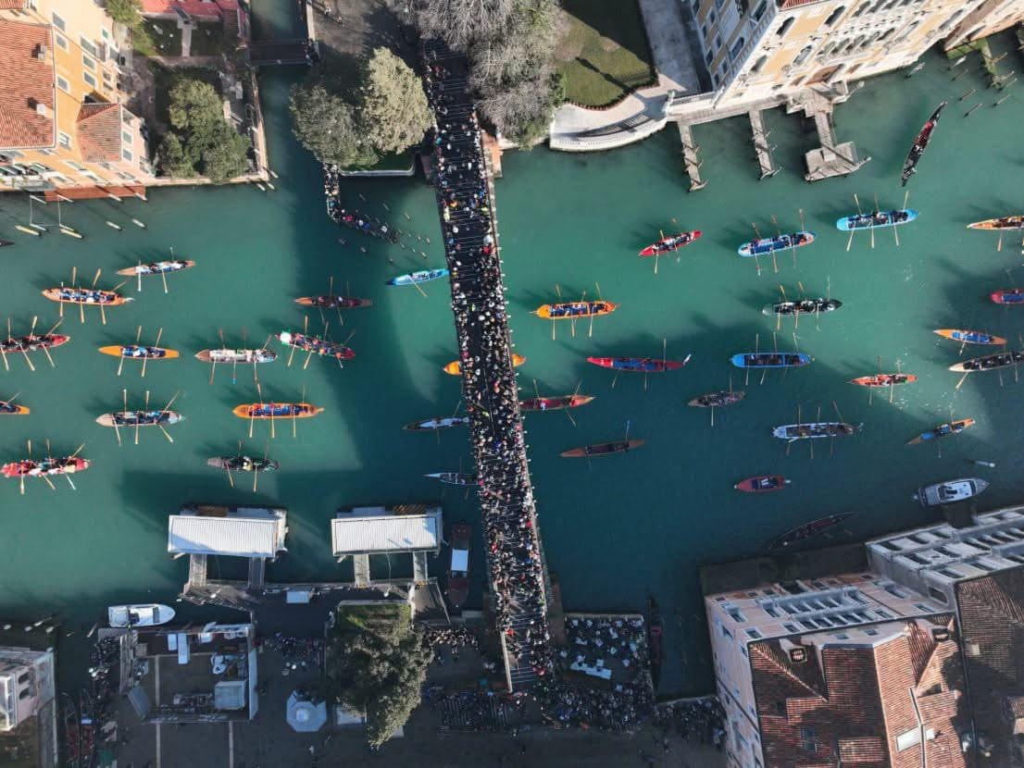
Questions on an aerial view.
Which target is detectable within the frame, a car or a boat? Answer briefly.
boat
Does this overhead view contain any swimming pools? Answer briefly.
No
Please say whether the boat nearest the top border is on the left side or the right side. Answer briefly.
right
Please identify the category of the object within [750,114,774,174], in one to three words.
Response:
pier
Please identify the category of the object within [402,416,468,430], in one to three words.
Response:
boat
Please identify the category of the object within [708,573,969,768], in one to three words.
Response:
building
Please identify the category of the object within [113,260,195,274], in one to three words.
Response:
boat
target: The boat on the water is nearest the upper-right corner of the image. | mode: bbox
[902,93,958,186]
